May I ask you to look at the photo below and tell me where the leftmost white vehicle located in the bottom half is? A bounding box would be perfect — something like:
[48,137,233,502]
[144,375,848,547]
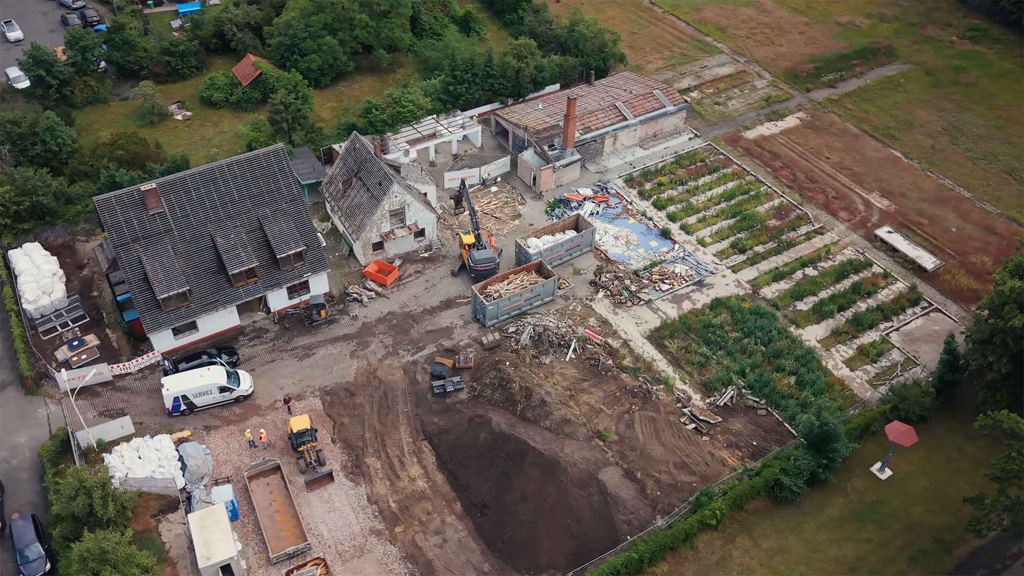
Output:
[166,366,256,416]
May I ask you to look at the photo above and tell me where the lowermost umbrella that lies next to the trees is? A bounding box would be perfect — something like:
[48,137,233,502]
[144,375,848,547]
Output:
[871,420,921,480]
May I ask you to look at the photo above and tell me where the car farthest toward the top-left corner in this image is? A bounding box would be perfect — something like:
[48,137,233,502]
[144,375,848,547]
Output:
[0,11,29,45]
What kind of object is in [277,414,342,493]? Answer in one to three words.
work vehicle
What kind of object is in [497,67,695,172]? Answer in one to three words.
shed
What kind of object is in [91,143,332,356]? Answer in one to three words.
house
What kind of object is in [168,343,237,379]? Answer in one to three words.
car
